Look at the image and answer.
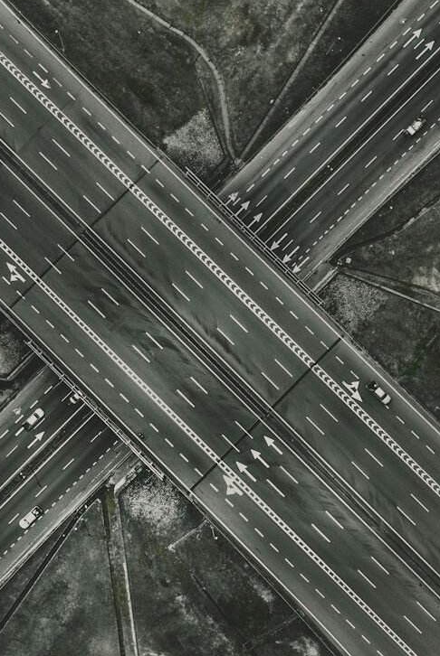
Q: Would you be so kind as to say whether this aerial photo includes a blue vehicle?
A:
No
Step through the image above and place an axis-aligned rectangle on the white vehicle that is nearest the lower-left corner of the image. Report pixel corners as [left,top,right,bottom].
[17,505,45,532]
